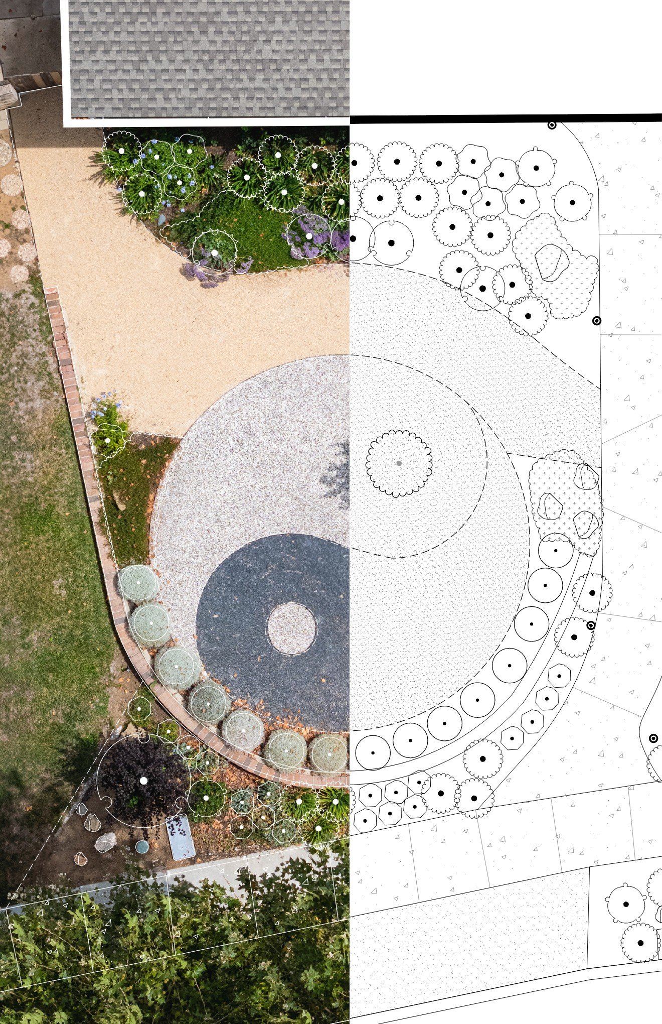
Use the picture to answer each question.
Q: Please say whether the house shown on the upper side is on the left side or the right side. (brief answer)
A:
left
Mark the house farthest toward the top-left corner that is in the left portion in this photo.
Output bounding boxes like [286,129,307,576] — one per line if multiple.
[60,0,350,128]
